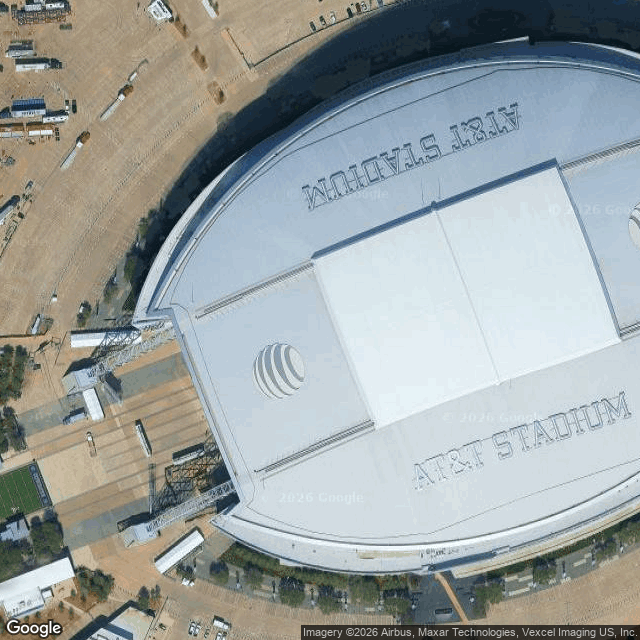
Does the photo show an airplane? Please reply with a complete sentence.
No, no airplane can be seen from above.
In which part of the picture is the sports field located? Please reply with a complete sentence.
The sports field is in the bottom left part of the image.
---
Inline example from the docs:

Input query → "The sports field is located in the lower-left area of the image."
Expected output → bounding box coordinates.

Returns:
[0,463,52,526]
